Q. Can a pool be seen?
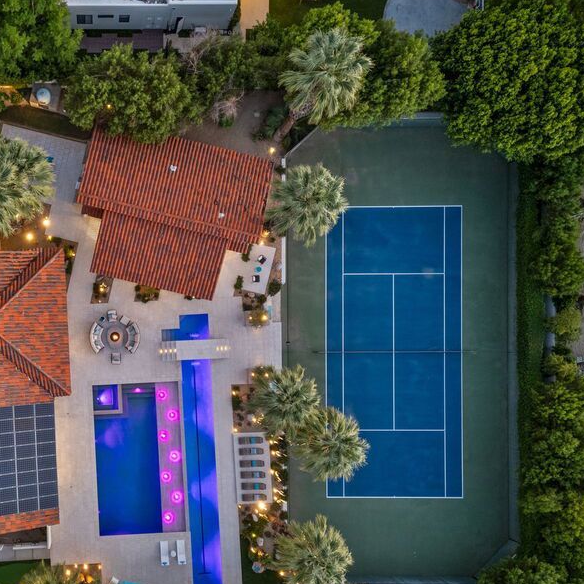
Yes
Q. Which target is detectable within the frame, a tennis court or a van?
tennis court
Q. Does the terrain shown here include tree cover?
Yes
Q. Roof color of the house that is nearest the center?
red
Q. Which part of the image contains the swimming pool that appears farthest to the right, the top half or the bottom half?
bottom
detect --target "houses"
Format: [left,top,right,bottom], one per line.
[71,0,239,40]
[0,247,72,534]
[77,126,277,300]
